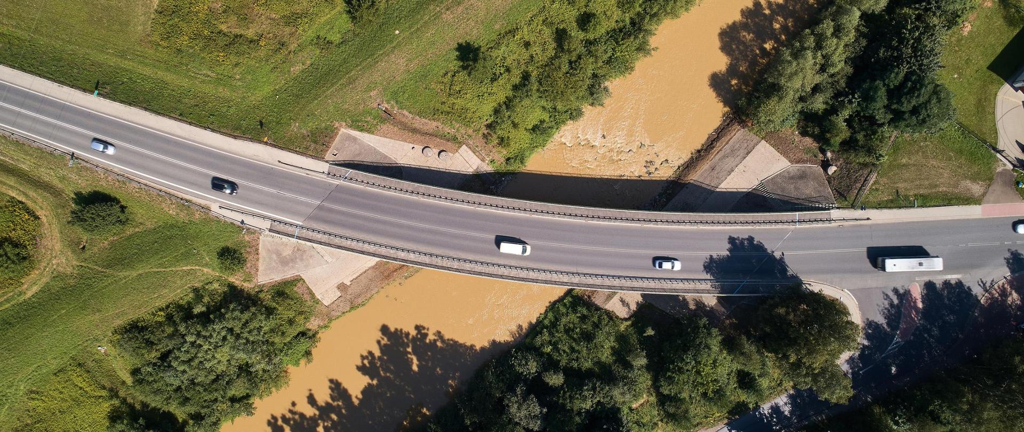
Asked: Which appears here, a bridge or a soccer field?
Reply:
bridge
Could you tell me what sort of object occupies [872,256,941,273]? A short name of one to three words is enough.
vehicle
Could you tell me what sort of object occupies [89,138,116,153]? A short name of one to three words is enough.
car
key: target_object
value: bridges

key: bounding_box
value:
[217,161,871,296]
